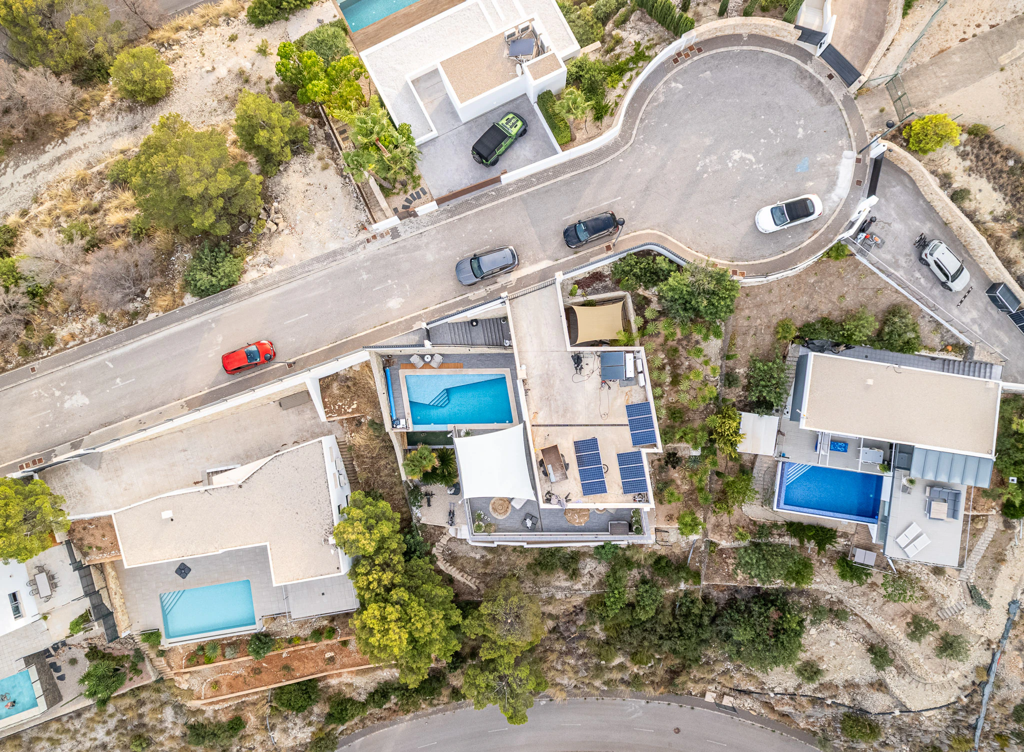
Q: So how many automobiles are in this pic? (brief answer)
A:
6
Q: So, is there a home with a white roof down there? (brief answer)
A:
Yes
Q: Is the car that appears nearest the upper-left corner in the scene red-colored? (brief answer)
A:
Yes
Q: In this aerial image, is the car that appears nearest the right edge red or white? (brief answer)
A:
white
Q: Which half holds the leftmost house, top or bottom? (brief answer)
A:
bottom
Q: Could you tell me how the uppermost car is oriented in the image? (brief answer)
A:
diagonally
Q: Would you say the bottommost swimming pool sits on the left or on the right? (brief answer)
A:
left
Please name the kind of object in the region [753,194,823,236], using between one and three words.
car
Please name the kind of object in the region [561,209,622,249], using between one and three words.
car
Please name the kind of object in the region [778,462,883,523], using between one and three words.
swimming pool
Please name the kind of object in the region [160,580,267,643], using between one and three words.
swimming pool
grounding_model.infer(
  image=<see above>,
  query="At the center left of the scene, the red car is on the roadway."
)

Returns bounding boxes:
[219,339,280,377]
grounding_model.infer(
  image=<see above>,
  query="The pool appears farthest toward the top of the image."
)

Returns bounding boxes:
[340,0,416,31]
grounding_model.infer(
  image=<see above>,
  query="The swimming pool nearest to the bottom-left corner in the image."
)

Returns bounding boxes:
[0,664,44,719]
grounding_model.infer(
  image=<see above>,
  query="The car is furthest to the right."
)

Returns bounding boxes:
[913,236,969,296]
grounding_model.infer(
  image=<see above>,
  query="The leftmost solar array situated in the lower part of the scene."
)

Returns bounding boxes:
[573,437,607,496]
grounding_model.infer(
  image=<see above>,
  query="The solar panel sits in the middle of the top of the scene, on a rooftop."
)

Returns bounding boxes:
[509,38,534,63]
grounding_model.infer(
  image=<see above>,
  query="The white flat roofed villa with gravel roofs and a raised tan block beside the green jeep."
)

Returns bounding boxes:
[360,0,580,152]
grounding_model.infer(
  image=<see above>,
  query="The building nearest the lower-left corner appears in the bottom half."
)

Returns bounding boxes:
[0,559,38,632]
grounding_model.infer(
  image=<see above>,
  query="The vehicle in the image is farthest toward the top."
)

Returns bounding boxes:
[470,108,529,170]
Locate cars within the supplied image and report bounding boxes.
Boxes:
[219,339,280,377]
[913,236,969,296]
[455,243,521,286]
[753,194,823,236]
[561,209,622,249]
[470,108,529,170]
